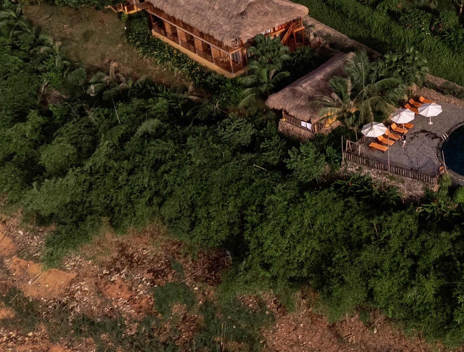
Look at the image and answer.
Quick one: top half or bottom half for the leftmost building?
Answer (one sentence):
It is in the top half that the leftmost building appears.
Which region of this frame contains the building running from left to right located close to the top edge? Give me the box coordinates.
[140,0,305,79]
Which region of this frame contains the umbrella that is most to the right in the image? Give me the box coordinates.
[418,100,442,125]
